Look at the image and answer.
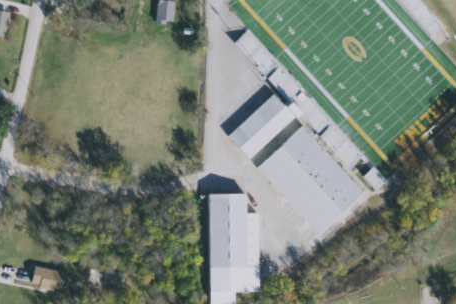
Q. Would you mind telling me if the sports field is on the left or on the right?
right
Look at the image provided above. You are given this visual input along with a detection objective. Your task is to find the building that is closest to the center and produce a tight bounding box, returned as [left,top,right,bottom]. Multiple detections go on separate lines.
[230,94,296,159]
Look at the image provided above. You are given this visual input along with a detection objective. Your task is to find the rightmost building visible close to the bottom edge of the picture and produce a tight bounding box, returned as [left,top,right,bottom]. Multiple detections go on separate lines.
[209,194,260,304]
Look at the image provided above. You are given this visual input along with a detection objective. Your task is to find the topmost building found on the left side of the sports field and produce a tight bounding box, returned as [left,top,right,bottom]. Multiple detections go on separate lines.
[156,0,176,24]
